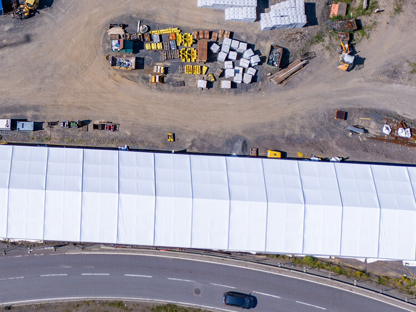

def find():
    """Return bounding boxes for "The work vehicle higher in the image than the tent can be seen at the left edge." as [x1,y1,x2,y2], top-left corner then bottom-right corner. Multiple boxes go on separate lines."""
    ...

[10,0,44,24]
